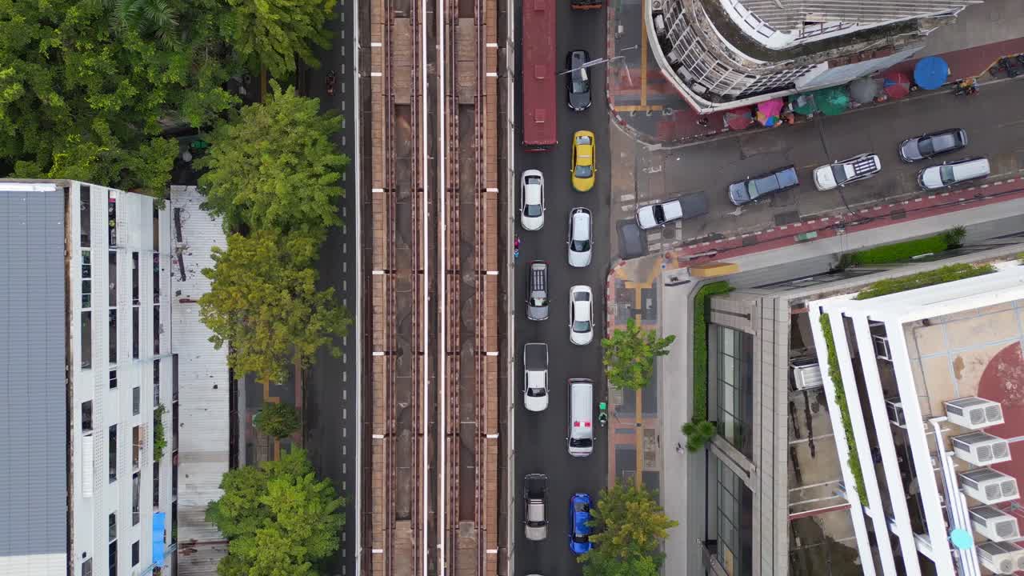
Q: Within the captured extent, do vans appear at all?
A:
Yes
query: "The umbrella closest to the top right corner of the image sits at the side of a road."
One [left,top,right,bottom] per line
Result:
[909,56,946,93]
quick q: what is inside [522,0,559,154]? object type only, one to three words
bus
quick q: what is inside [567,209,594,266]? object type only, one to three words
car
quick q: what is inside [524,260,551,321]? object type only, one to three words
truck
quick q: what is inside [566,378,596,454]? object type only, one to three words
van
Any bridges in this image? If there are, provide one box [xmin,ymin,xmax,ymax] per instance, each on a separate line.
[354,0,513,576]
